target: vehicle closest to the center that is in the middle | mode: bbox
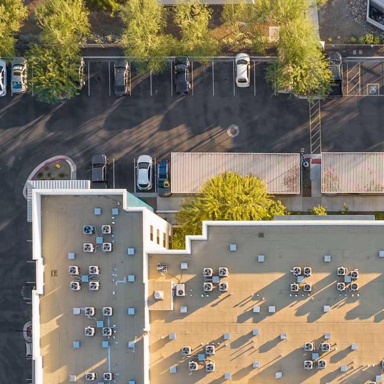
[154,161,171,197]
